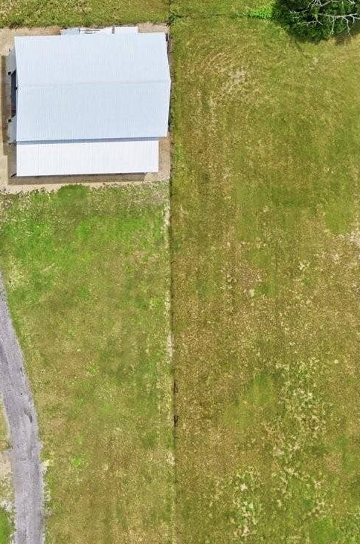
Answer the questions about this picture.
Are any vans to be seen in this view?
No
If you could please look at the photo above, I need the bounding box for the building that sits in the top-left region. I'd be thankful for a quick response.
[8,31,171,176]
